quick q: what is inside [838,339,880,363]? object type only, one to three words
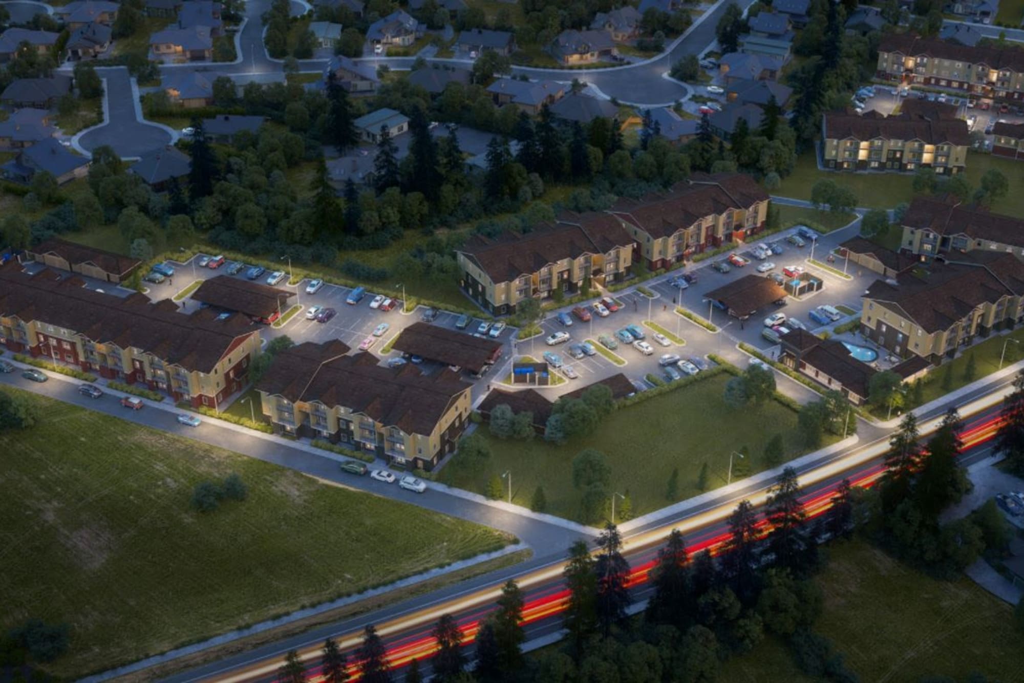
swimming pool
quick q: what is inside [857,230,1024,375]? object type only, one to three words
building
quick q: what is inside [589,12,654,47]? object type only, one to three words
house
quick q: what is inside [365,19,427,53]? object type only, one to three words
house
